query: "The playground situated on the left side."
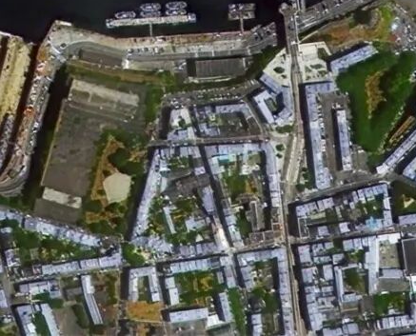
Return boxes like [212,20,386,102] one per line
[102,173,131,204]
